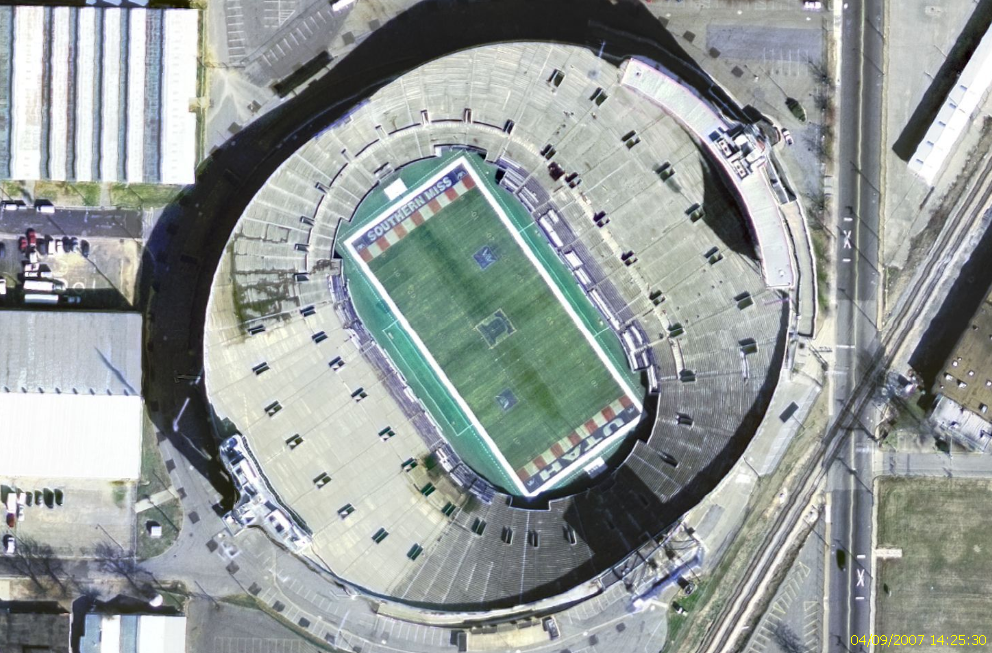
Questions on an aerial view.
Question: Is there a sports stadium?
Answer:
Yes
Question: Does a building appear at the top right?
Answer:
Yes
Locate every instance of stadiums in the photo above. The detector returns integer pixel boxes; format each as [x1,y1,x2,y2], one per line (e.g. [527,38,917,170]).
[200,38,798,626]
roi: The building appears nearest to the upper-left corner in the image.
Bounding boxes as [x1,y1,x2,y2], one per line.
[0,8,199,187]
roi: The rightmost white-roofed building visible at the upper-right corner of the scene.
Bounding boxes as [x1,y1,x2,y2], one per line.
[908,24,992,189]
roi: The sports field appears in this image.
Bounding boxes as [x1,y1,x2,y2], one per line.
[333,146,658,510]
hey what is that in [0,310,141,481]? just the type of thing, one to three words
warehouse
